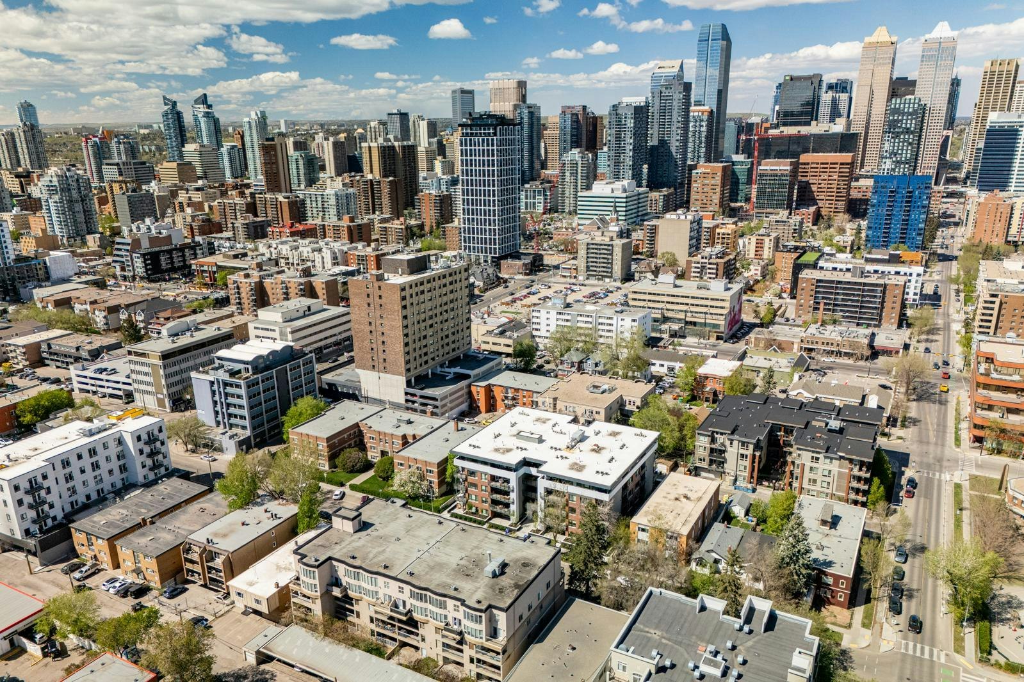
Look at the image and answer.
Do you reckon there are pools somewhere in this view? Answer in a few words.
No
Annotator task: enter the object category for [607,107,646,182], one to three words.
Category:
building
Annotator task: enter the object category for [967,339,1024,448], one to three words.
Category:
building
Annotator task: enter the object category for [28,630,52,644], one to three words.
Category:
car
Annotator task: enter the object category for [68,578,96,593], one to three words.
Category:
vehicle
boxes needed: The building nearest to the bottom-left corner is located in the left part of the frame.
[0,583,46,650]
